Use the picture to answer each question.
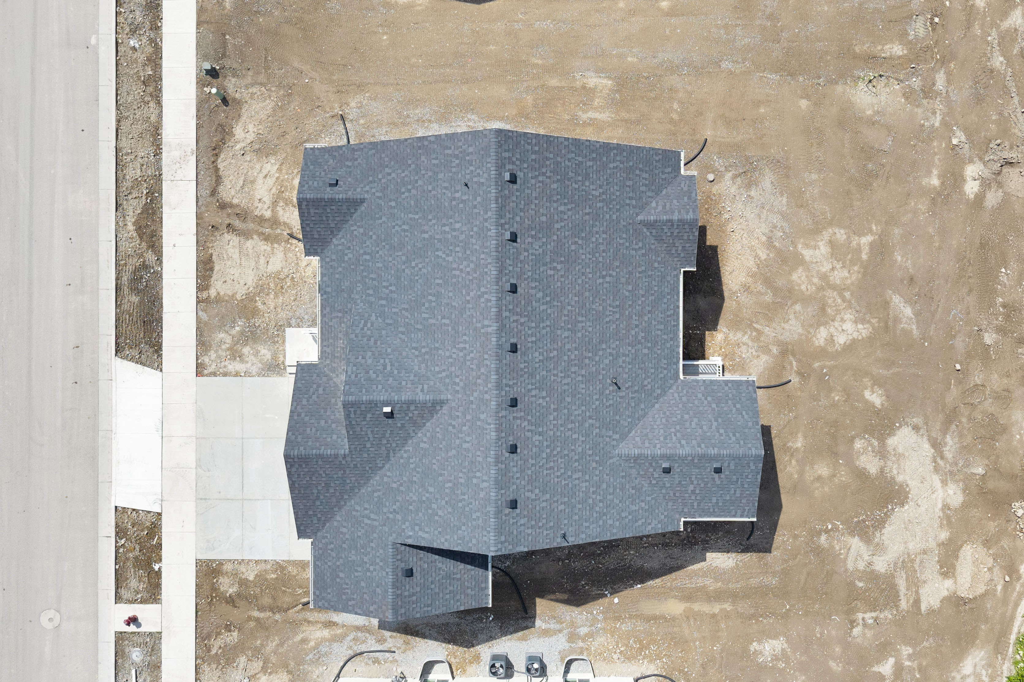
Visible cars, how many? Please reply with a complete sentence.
The count of cars is 0.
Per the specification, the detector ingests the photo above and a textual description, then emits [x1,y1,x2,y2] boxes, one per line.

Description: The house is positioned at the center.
[284,128,764,622]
